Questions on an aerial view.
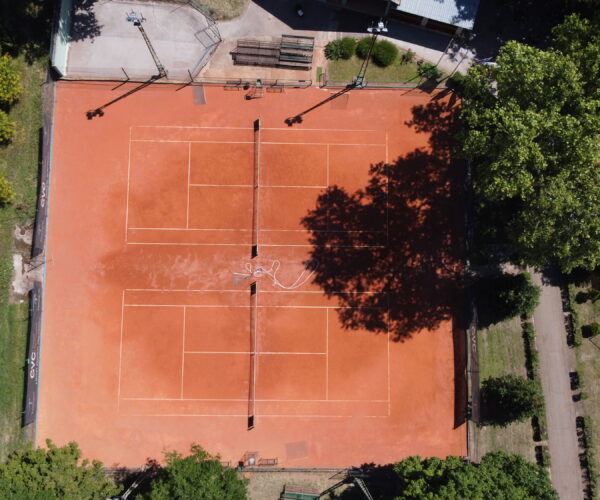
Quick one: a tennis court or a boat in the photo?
tennis court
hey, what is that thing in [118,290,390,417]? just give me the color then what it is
orange tennis court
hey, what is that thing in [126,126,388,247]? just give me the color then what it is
orange tennis court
